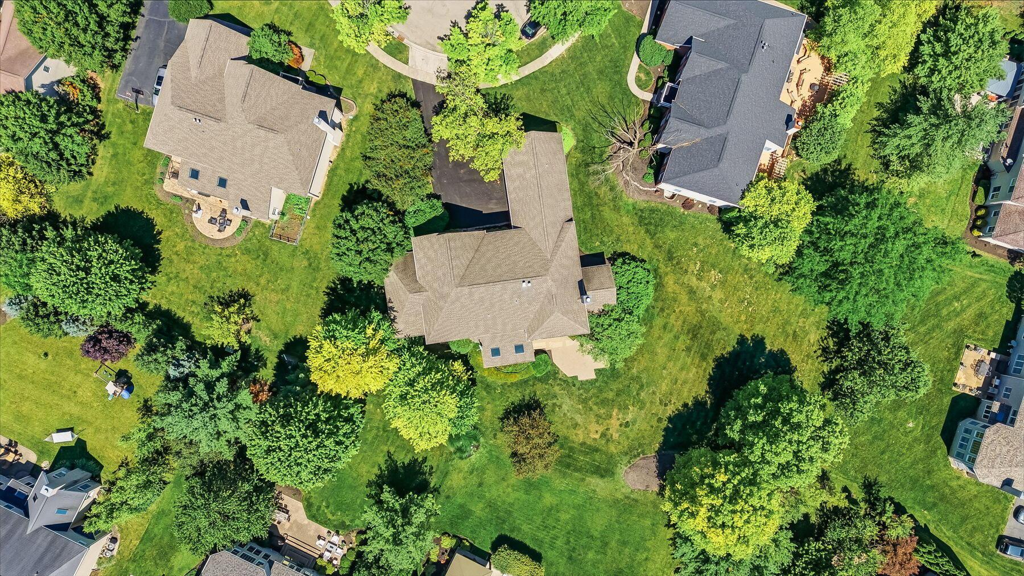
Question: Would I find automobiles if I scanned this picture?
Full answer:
Yes, an automobile can be made out from above.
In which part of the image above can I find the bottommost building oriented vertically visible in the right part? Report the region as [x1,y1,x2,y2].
[947,321,1024,507]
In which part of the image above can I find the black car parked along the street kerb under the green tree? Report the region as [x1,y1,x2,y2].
[519,10,544,47]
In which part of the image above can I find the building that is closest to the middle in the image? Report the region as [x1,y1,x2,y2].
[385,131,617,368]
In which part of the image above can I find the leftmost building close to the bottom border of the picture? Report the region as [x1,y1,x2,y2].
[0,458,113,576]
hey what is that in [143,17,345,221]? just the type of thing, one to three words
house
